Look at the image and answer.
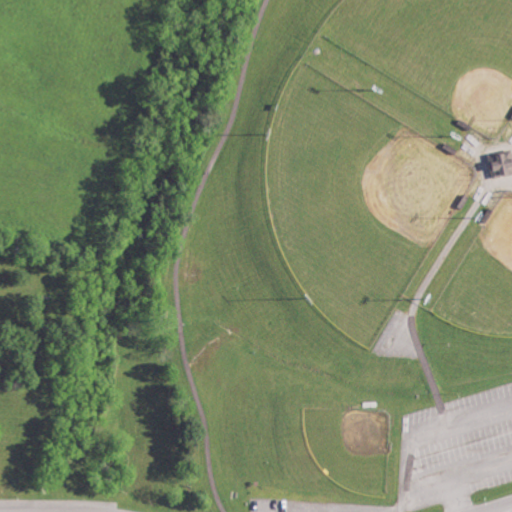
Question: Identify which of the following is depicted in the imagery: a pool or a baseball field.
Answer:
baseball field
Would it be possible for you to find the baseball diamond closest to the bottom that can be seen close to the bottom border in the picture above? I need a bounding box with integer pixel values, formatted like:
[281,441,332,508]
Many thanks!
[304,408,390,498]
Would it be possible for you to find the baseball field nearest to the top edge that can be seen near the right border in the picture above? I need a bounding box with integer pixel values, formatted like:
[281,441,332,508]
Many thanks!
[320,0,512,142]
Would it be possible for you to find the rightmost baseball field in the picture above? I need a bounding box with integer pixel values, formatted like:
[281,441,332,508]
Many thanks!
[432,192,512,336]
